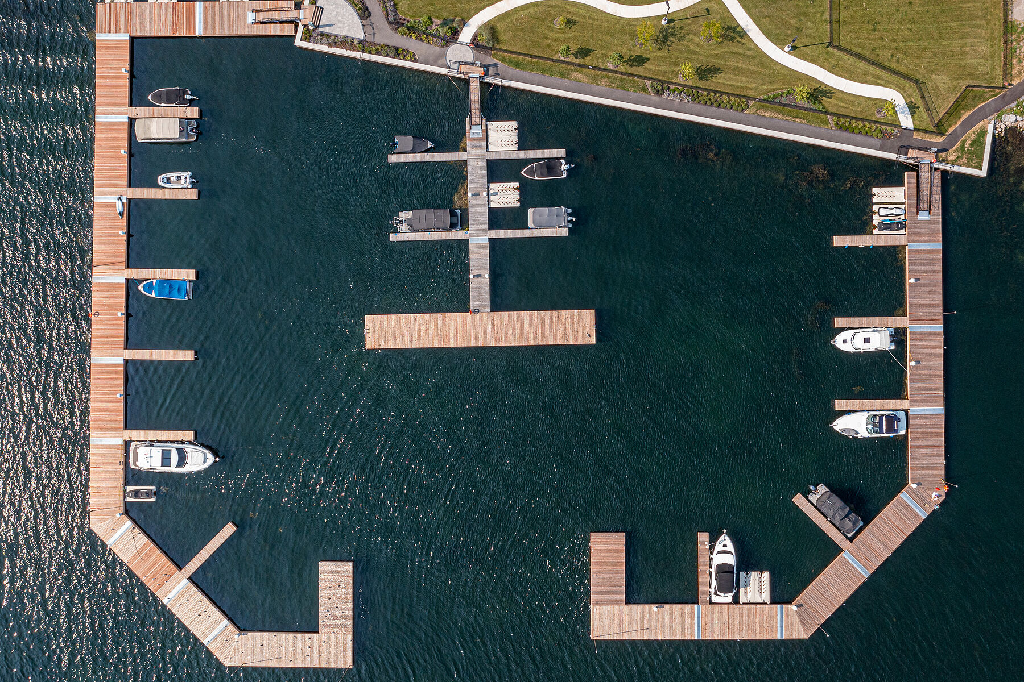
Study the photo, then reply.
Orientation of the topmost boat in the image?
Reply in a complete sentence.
What the image shows is the topmost boat lying from left to right.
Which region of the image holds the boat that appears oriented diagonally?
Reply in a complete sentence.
The boat that appears oriented diagonally is in the bottom right part of the image.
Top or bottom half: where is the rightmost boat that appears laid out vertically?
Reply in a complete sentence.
It is in the bottom half that the rightmost boat that appears laid out vertically appears.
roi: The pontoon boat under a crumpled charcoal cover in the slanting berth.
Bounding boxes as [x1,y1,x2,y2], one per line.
[804,481,863,536]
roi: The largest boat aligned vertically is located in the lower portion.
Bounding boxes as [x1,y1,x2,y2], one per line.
[709,531,737,604]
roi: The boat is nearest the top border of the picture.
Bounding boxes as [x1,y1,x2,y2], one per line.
[149,86,199,107]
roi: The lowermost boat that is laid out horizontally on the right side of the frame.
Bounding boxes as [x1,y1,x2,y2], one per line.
[831,410,908,439]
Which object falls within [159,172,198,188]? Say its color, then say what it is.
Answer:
white boat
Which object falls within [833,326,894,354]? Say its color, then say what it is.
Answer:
white boat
